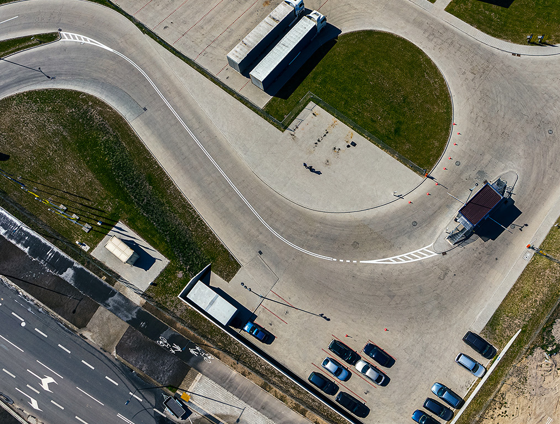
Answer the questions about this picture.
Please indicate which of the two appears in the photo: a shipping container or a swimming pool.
shipping container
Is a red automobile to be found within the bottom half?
No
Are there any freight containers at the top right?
No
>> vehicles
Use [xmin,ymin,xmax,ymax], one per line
[328,335,358,366]
[245,319,271,344]
[321,353,349,382]
[424,394,453,422]
[456,349,485,378]
[251,16,326,94]
[412,405,443,424]
[229,0,304,76]
[366,341,394,370]
[309,368,339,398]
[335,387,369,420]
[463,327,497,360]
[355,356,386,388]
[301,158,315,170]
[432,379,465,413]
